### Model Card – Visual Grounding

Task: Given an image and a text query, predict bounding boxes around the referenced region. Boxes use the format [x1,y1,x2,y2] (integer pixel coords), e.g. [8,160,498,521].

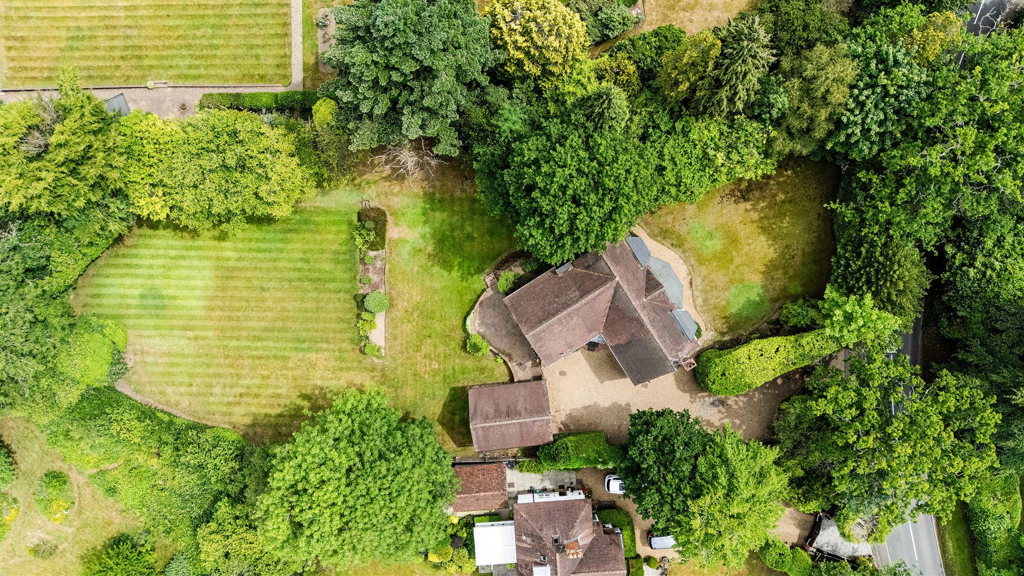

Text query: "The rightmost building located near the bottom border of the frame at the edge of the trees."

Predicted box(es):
[513,484,631,576]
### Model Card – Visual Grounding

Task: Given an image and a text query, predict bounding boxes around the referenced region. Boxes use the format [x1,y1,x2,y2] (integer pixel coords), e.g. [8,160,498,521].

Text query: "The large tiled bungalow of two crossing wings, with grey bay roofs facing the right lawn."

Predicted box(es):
[505,235,700,387]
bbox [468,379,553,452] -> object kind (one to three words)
building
